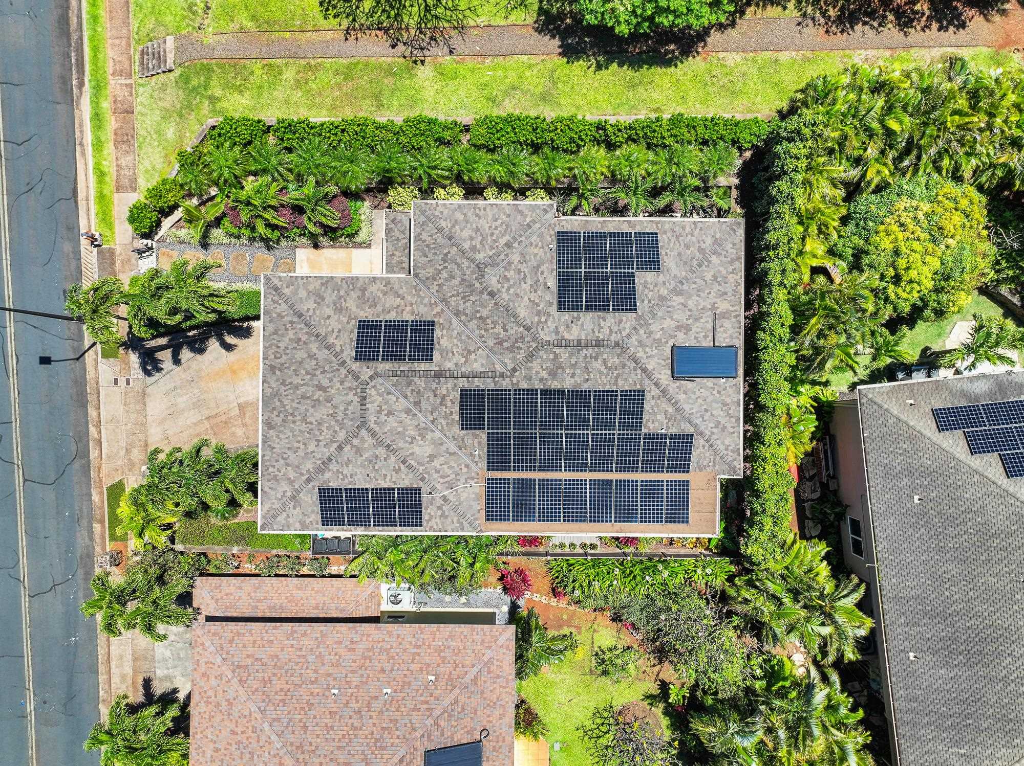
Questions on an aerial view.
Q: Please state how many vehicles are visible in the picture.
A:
zero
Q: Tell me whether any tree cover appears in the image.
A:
Yes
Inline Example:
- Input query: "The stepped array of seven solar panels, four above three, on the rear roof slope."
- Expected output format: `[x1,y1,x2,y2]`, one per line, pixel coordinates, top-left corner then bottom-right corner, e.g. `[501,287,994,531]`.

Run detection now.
[556,230,662,312]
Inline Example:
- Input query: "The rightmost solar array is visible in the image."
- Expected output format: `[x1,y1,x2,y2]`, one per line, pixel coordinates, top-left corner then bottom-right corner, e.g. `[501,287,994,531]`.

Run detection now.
[933,395,1024,479]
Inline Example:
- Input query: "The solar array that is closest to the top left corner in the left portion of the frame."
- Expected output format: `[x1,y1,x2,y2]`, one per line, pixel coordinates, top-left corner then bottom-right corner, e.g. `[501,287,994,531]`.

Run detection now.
[353,319,435,362]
